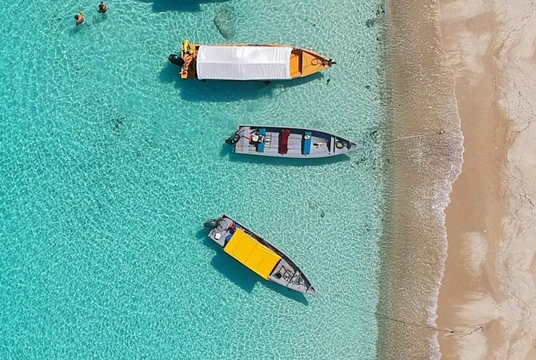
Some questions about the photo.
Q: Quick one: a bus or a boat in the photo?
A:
boat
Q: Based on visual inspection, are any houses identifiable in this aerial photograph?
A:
No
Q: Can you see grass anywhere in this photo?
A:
No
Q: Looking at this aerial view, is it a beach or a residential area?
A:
beach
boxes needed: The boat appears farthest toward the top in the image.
[167,43,336,80]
